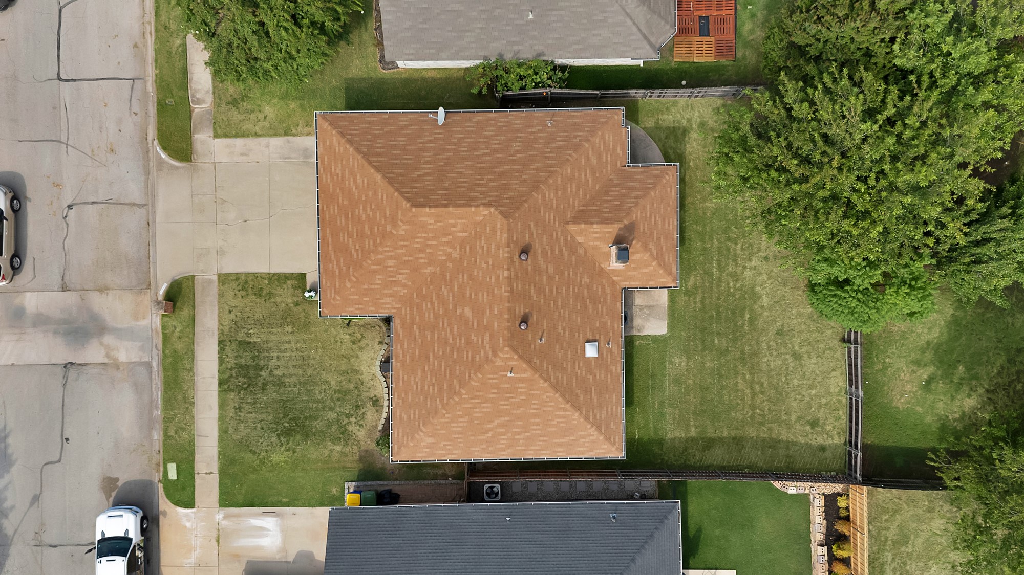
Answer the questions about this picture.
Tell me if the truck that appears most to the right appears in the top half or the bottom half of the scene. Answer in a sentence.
It is in the bottom half that the truck that appears most to the right appears.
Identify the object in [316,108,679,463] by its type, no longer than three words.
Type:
house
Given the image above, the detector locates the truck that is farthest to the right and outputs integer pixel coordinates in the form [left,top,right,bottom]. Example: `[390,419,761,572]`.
[89,502,154,575]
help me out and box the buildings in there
[316,108,679,463]
[382,0,678,75]
[324,497,682,575]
